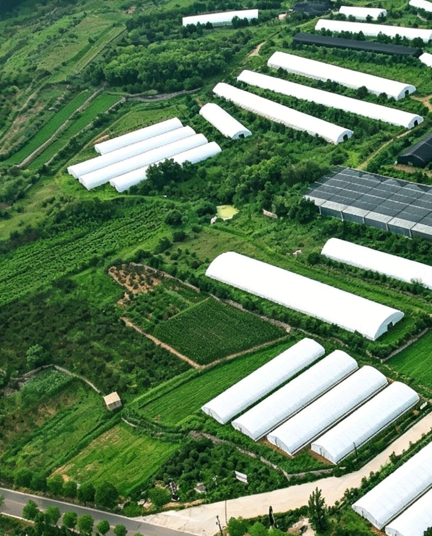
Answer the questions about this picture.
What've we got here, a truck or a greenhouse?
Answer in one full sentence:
I can see a greenhouse in this picture.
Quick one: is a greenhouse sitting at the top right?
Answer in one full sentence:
Yes, a greenhouse appears at the top right.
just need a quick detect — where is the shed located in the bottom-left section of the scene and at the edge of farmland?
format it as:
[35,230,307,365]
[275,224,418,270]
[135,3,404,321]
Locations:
[100,387,121,411]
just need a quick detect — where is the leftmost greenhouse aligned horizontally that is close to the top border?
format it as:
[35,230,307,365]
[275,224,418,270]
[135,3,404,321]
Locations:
[180,9,258,27]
